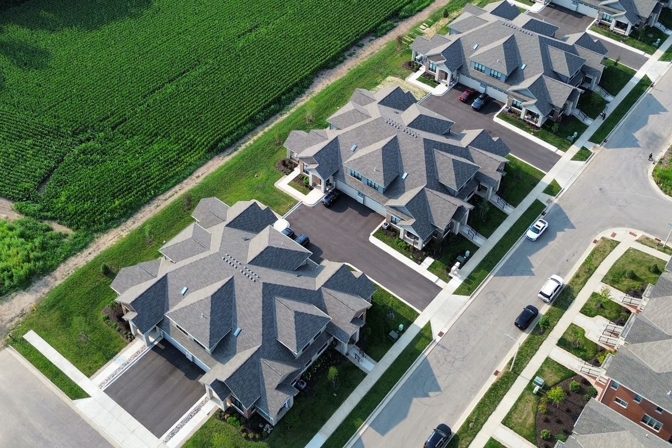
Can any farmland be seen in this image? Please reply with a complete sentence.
Yes, farmland can be seen from above here.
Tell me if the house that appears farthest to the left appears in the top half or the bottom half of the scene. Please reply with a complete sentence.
The bottom half of the photo is where the house that appears farthest to the left is.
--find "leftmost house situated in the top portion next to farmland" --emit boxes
[283,86,508,251]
